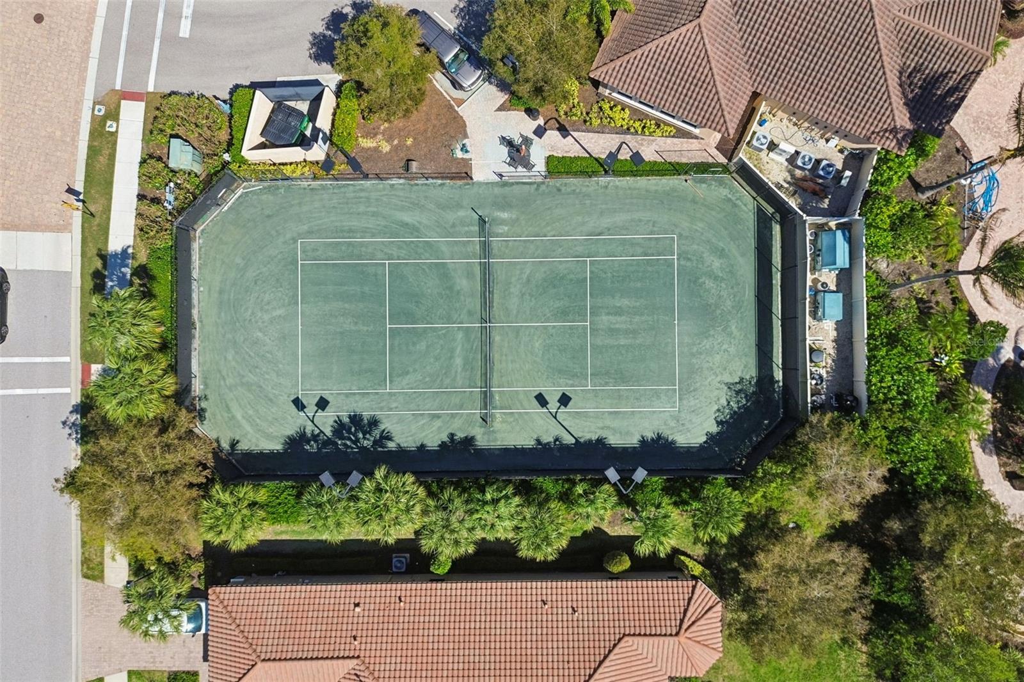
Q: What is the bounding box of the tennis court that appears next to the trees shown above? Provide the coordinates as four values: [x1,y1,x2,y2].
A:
[190,169,788,476]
